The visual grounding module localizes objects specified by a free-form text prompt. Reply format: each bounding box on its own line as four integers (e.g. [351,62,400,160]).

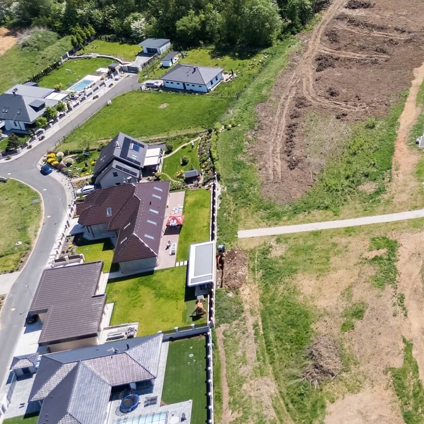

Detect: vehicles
[36,164,56,174]
[15,313,41,326]
[74,184,97,196]
[215,243,226,260]
[144,78,163,87]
